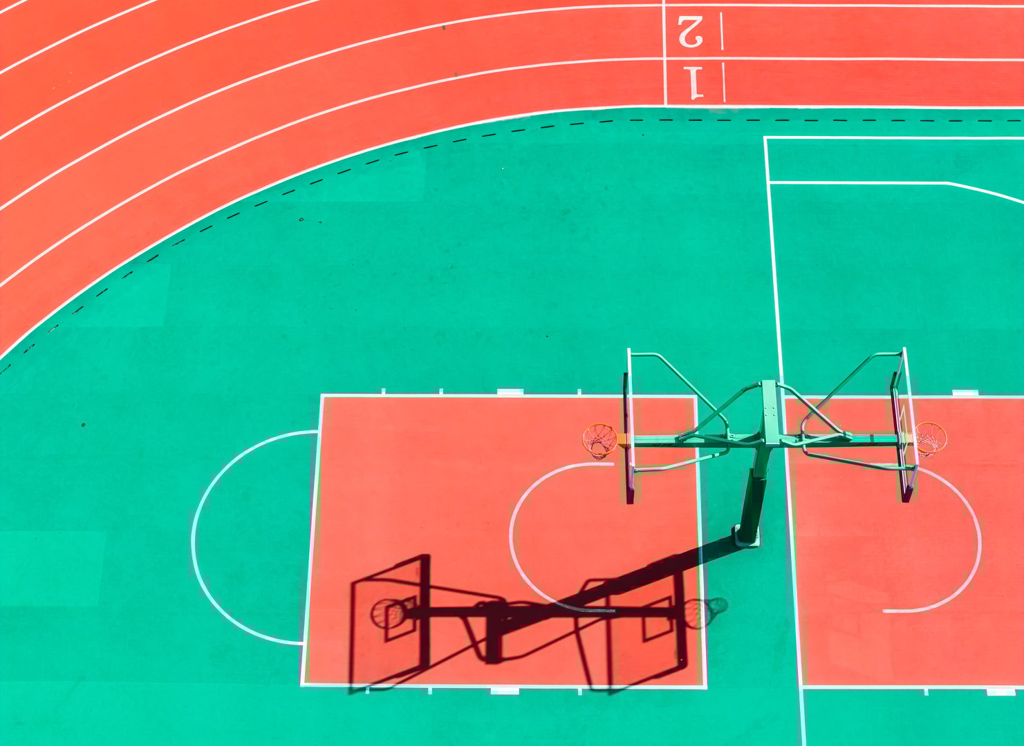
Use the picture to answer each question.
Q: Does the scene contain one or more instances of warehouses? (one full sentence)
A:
No, I can't see a single warehouse in this photo.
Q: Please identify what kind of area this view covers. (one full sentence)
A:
This image shows a sports ground.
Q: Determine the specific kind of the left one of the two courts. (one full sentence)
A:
The left one of the two courts appears to be a basketball court.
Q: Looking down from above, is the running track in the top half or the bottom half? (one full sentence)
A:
The running track is in the top half of the image.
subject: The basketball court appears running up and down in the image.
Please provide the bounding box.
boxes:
[764,136,1024,746]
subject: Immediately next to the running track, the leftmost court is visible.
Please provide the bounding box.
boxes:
[191,388,707,695]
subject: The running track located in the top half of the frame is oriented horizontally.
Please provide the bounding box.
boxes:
[0,0,1024,359]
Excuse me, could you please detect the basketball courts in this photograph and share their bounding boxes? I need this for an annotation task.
[191,388,707,695]
[764,136,1024,746]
